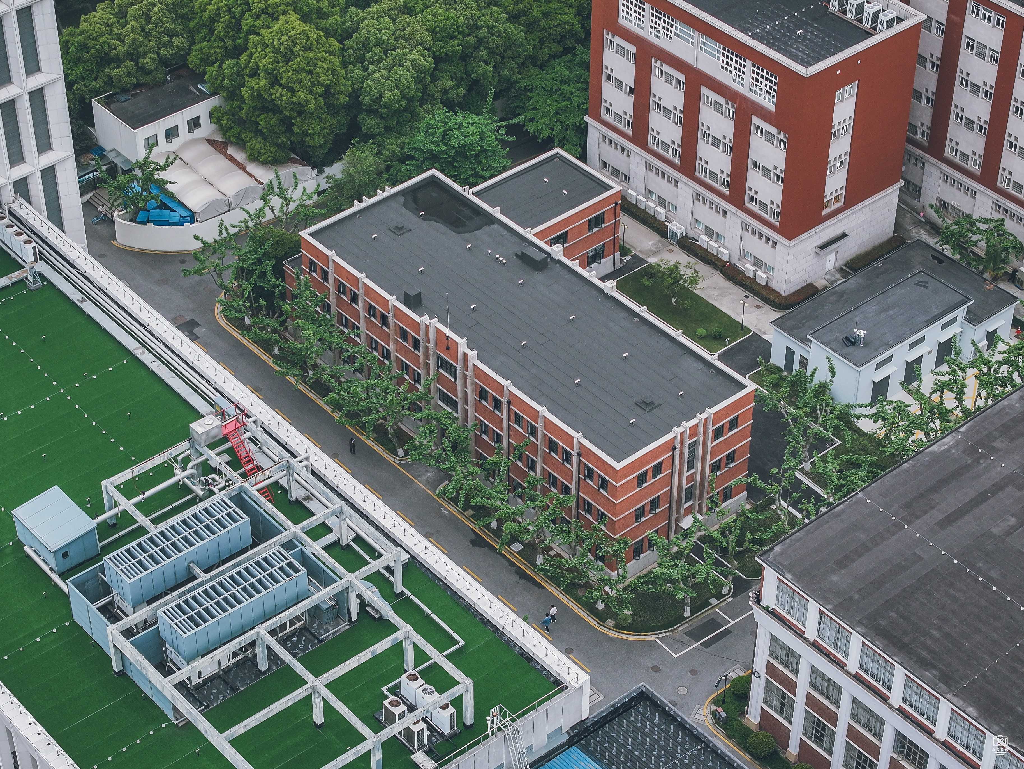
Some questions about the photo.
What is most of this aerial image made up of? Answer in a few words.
buildings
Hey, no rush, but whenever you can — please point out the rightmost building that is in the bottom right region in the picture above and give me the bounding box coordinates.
[737,383,1024,769]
